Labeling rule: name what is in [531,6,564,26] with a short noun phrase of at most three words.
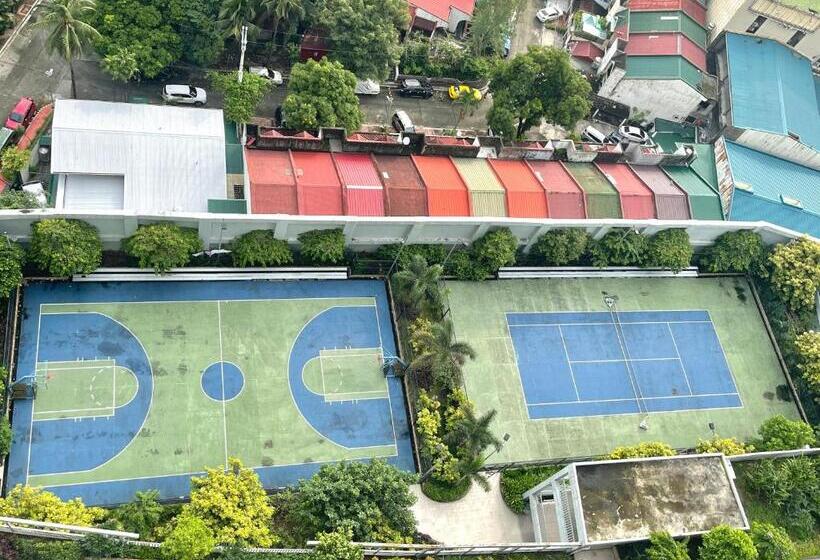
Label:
car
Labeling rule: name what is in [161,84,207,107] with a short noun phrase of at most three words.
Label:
car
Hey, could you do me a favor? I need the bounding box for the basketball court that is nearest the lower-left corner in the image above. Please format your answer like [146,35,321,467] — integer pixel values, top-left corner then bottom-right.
[4,279,415,510]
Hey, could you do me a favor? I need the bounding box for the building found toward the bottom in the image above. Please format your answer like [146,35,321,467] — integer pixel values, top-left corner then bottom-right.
[513,451,753,554]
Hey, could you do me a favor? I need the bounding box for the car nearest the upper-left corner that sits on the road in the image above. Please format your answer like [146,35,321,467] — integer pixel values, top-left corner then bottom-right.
[7,95,40,137]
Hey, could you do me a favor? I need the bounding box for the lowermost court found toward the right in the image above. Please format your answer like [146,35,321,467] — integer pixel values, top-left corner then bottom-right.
[446,276,802,467]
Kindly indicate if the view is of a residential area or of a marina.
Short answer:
residential area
